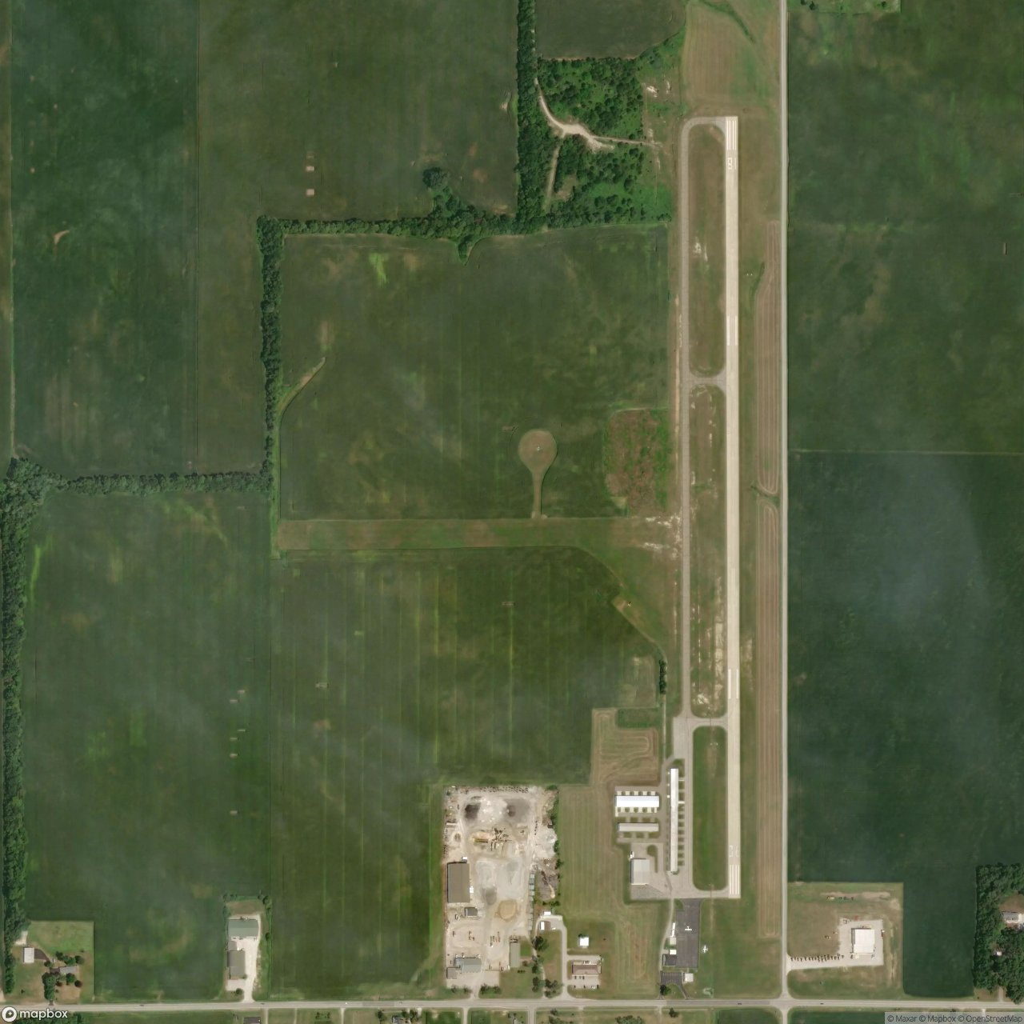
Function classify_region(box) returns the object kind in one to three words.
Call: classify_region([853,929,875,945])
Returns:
building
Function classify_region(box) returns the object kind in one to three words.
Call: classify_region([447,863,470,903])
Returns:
building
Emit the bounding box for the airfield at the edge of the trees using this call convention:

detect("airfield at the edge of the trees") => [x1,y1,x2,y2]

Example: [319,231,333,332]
[278,117,740,968]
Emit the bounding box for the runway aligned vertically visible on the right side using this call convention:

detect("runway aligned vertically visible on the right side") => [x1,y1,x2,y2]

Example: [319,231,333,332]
[726,117,740,898]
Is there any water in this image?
No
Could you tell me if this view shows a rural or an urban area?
rural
